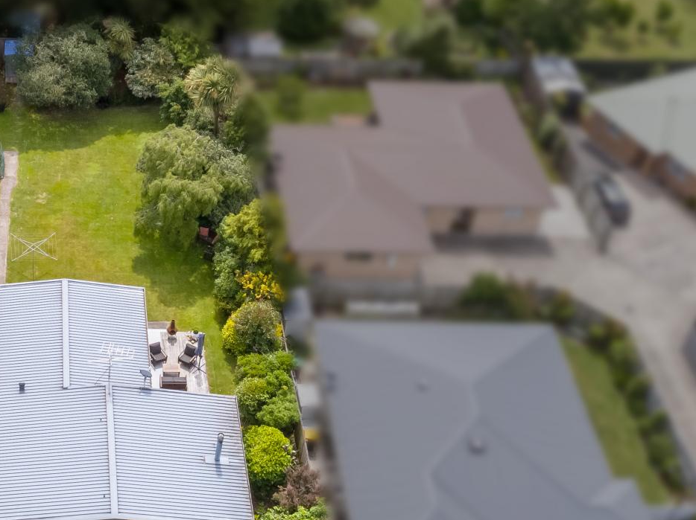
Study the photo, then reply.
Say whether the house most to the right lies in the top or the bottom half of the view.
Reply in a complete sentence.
The house most to the right is in the top half of the image.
